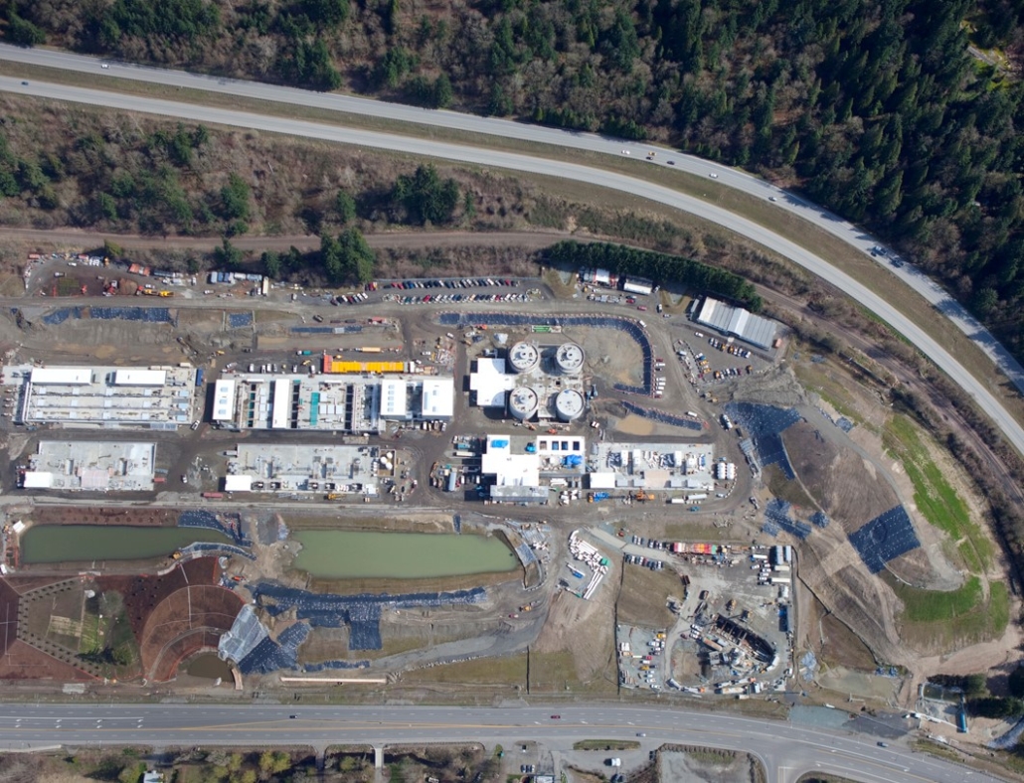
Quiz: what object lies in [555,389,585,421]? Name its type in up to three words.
storage tank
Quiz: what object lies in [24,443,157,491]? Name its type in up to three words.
building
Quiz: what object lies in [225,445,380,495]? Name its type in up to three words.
building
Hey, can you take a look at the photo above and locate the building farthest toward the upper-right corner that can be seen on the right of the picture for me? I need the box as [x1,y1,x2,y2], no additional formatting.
[696,297,776,352]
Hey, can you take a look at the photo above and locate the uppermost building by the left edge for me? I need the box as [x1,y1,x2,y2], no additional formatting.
[22,367,199,430]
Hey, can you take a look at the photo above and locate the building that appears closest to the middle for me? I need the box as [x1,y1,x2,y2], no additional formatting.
[470,358,514,407]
